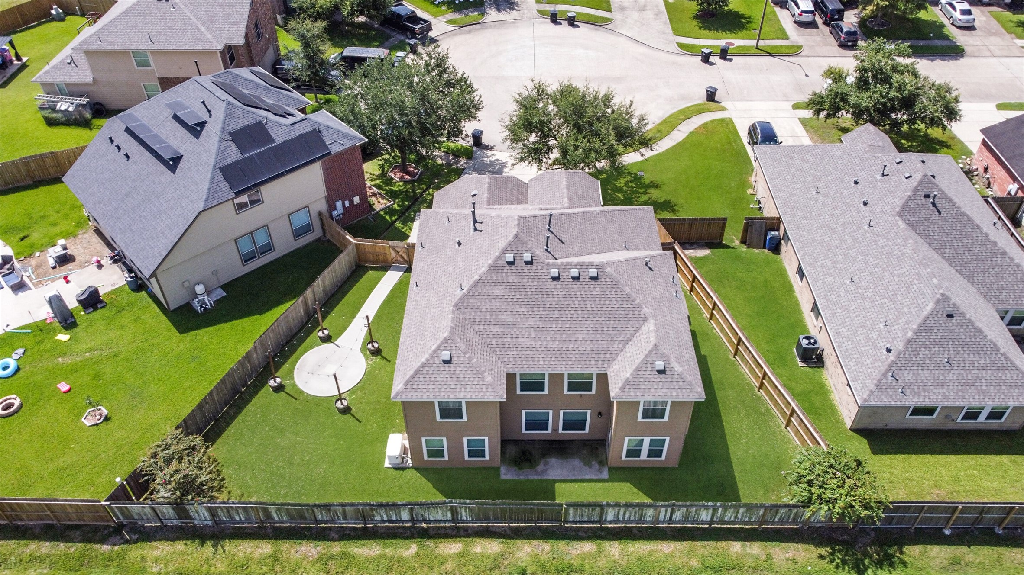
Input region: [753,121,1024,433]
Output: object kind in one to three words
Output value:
house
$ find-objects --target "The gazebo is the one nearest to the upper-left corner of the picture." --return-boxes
[0,37,29,82]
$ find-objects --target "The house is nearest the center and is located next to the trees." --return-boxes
[388,170,708,468]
